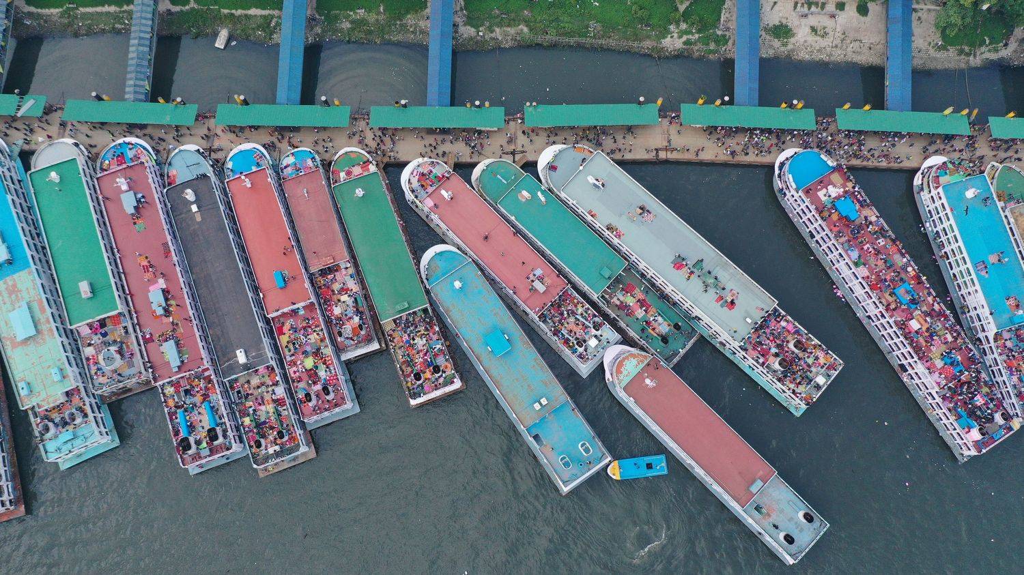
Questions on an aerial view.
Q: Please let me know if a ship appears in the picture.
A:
Yes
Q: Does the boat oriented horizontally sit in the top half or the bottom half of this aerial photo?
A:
bottom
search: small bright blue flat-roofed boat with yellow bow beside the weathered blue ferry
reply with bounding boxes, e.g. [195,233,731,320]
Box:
[607,456,668,478]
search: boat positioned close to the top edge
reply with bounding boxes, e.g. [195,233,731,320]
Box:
[214,28,228,49]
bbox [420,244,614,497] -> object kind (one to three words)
ship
